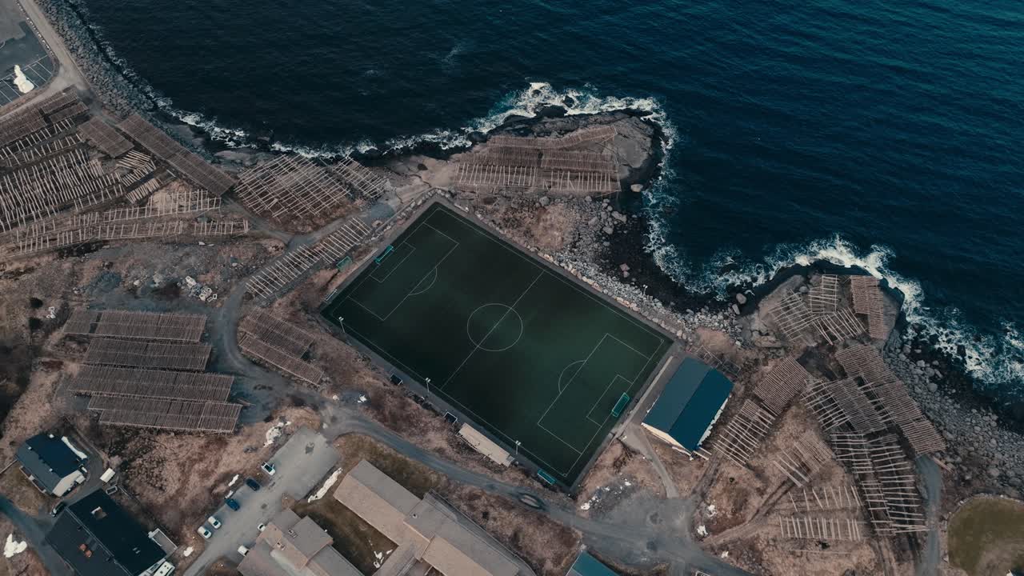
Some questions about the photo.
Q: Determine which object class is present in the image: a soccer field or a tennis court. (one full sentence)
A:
This aerial view contains a soccer field.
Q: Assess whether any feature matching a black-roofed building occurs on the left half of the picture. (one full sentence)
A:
Yes, you'll find a black-roofed building on the left half of the picture.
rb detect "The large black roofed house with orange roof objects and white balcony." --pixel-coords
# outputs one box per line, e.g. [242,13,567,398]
[44,488,181,576]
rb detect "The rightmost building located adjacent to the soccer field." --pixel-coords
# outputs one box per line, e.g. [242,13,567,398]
[642,356,734,456]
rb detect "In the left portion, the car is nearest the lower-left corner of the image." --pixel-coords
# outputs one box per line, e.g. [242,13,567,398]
[50,501,68,516]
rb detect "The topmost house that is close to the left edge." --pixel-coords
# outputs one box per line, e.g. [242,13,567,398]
[15,433,89,498]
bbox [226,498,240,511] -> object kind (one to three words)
vehicle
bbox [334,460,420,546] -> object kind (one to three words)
building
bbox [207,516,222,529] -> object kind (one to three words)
vehicle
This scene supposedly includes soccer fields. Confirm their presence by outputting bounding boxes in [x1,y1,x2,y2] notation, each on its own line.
[302,195,684,507]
